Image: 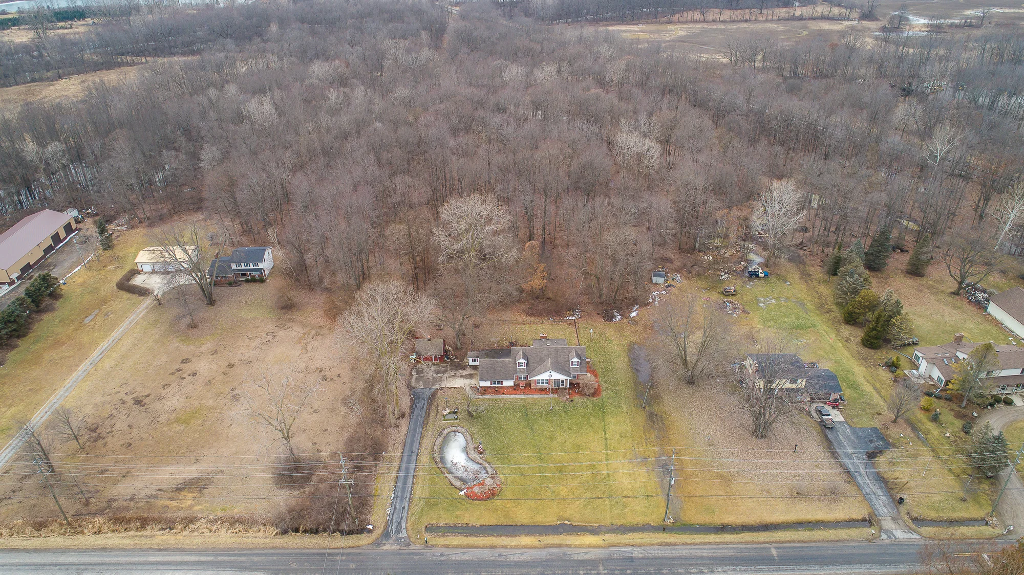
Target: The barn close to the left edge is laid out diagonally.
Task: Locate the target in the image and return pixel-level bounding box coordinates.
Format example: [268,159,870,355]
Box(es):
[0,208,78,286]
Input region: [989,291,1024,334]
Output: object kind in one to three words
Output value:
building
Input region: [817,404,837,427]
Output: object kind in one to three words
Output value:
vehicle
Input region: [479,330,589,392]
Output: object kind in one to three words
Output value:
house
